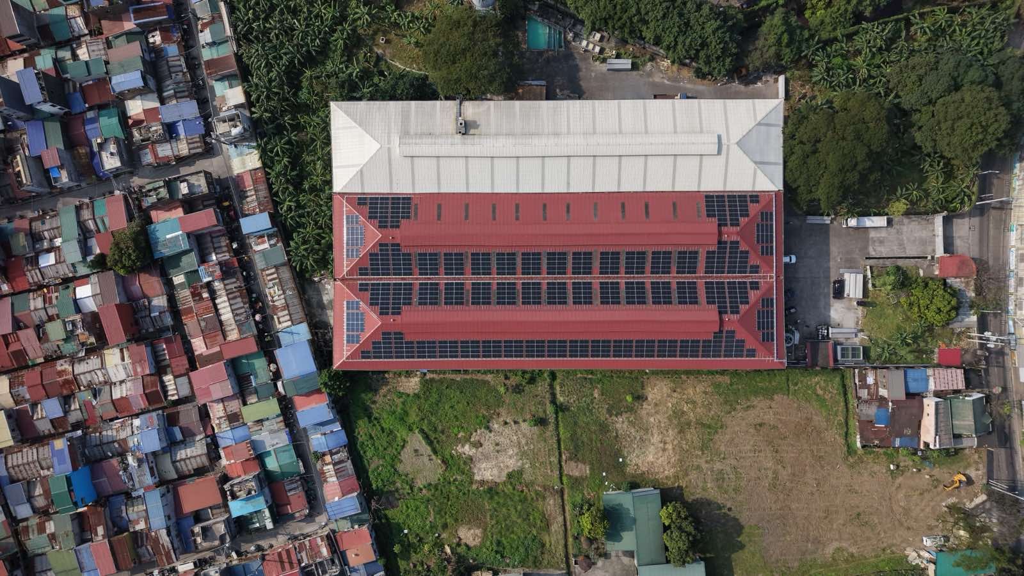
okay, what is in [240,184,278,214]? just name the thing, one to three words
house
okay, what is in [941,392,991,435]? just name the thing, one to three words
house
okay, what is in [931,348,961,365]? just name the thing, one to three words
building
